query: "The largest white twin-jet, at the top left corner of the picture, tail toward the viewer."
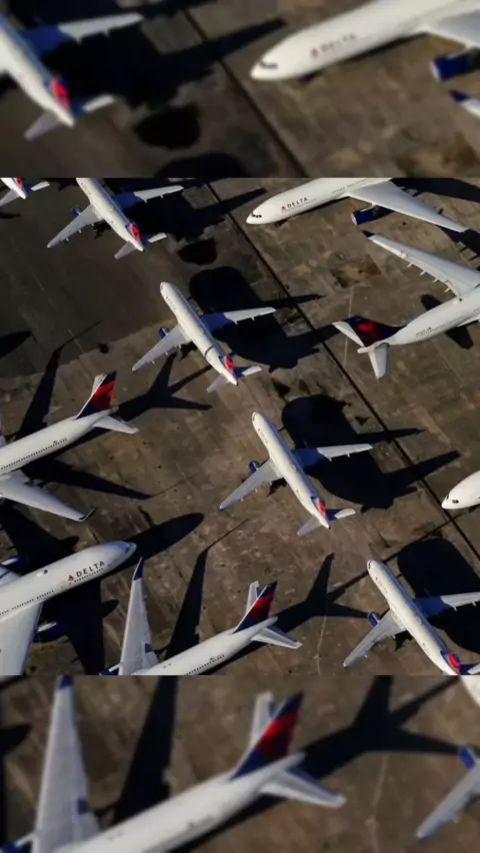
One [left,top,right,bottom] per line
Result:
[0,2,140,137]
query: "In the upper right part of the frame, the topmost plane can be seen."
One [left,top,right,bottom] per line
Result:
[250,0,480,85]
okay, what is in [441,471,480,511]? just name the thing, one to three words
airplane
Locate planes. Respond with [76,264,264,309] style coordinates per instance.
[46,164,186,259]
[221,412,372,535]
[441,471,480,511]
[0,125,71,204]
[132,280,278,393]
[248,73,480,234]
[66,696,343,853]
[0,542,135,716]
[250,0,480,85]
[330,233,480,376]
[345,561,480,691]
[1,561,304,761]
[0,350,138,523]
[0,2,140,137]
